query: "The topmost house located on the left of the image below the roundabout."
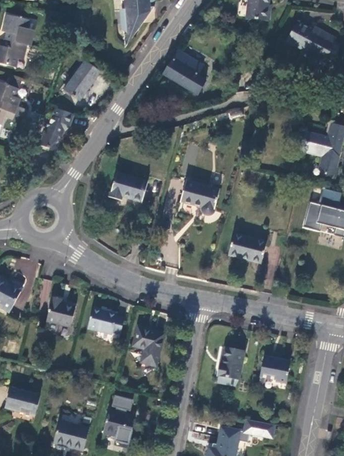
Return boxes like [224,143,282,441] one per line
[0,279,24,312]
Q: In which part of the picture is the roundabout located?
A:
left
